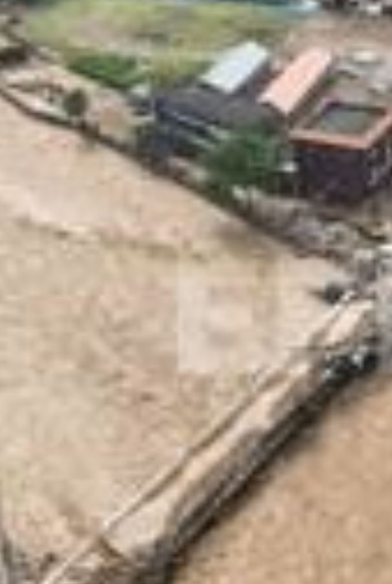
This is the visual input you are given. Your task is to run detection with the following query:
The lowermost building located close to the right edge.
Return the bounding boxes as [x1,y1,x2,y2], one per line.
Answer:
[286,93,392,191]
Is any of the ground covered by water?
Yes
